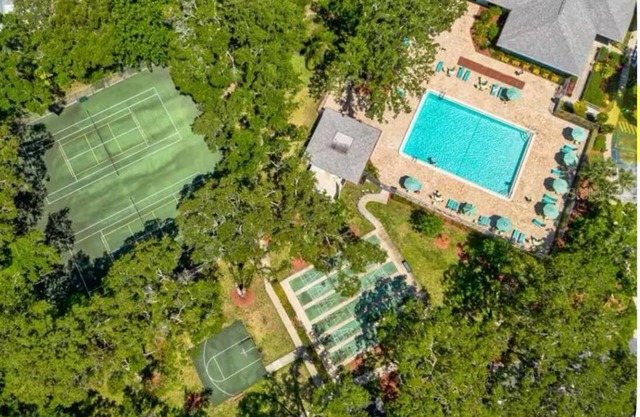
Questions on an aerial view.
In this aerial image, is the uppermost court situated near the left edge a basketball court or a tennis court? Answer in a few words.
tennis court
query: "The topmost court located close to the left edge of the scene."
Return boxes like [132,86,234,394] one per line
[11,55,221,224]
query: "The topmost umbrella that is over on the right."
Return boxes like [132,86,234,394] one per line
[504,86,519,101]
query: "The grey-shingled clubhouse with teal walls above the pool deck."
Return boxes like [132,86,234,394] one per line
[470,0,640,78]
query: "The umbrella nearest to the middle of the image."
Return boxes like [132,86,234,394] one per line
[404,176,420,192]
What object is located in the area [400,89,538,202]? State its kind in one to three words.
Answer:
swimming pool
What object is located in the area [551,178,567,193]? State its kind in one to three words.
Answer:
umbrella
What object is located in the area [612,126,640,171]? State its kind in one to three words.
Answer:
sports court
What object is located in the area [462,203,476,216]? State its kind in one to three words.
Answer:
umbrella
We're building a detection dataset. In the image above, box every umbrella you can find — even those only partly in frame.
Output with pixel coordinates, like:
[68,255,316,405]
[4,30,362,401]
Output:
[543,204,558,218]
[462,203,476,216]
[504,86,519,101]
[562,151,576,165]
[551,178,567,193]
[569,126,584,141]
[404,176,420,192]
[496,216,511,231]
